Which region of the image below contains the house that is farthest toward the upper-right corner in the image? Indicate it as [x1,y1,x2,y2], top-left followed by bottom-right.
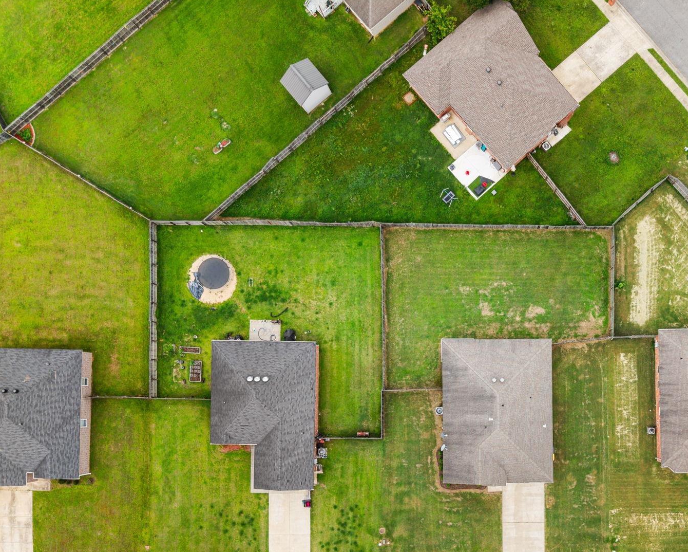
[403,1,580,173]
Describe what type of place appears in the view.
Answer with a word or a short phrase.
residential area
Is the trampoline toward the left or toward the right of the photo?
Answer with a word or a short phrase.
left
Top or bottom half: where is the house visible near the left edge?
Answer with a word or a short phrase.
bottom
